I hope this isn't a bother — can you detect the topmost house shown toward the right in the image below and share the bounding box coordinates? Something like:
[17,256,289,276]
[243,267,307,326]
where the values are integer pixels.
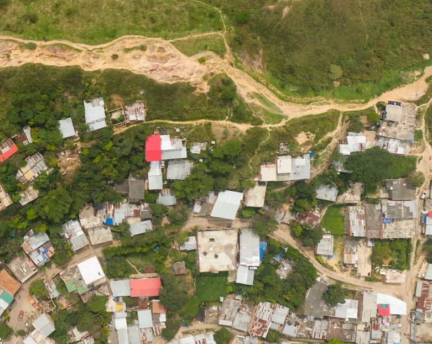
[370,101,417,141]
